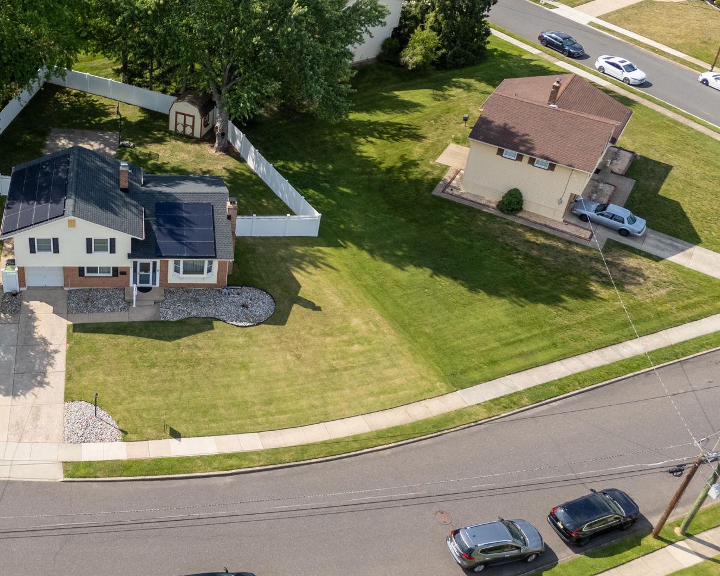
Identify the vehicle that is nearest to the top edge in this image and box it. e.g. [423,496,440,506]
[541,32,584,56]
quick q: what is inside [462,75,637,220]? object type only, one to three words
house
